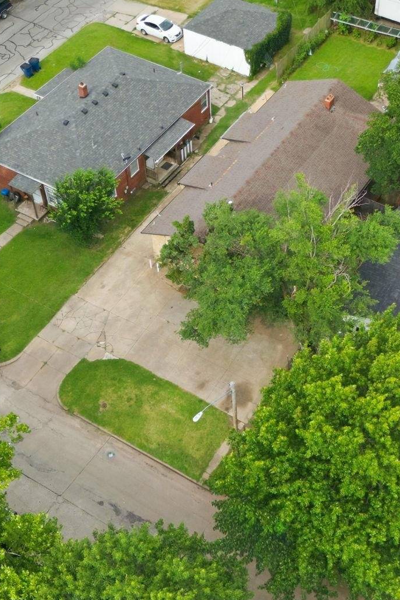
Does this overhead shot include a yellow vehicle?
No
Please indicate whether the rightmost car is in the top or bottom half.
top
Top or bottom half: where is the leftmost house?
top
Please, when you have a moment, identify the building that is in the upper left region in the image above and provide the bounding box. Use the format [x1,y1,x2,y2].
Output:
[0,45,213,229]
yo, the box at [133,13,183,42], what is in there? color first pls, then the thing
white car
